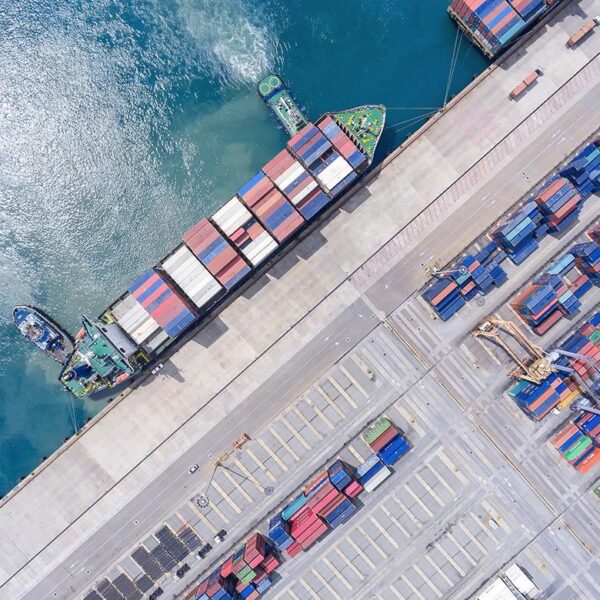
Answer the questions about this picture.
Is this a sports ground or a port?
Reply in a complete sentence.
This image shows a port.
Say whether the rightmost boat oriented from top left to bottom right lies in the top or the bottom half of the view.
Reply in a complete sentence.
You can find the rightmost boat oriented from top left to bottom right in the top half.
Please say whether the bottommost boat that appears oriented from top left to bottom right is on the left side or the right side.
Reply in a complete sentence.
The bottommost boat that appears oriented from top left to bottom right is on the left side of the image.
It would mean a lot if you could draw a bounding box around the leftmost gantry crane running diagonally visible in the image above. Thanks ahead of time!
[471,316,560,387]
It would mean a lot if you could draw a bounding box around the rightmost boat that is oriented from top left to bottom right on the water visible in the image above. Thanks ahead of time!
[255,79,309,142]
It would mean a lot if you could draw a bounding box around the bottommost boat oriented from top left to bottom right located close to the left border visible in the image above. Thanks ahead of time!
[15,304,78,363]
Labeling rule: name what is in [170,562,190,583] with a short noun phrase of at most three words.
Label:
vehicle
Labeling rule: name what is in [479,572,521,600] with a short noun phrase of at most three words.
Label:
shed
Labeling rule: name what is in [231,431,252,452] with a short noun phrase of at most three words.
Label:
vehicle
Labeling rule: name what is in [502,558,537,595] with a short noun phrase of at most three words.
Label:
shed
